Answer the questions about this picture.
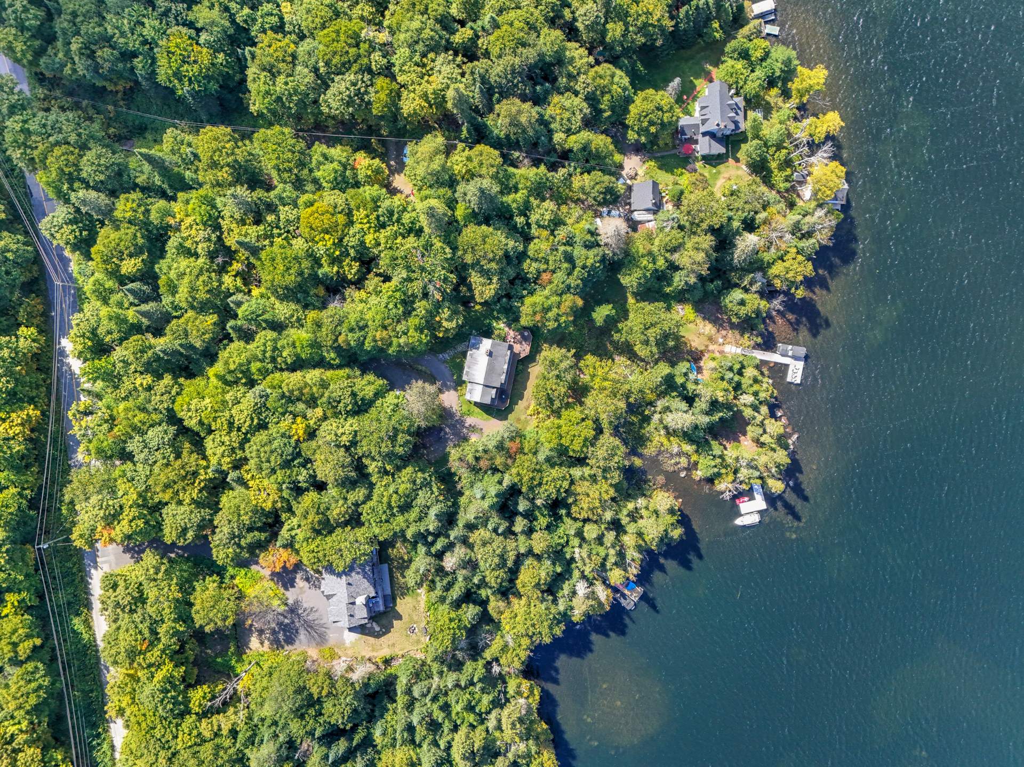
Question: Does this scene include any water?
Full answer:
Yes, water shows up in the scene.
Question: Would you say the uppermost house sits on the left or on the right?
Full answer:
It is on the right.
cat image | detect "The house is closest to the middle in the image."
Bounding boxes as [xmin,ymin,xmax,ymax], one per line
[463,336,514,404]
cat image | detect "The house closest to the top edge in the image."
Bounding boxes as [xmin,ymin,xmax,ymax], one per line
[676,81,745,159]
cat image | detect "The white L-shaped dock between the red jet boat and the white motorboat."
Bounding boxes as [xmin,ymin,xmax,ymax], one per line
[739,482,766,514]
